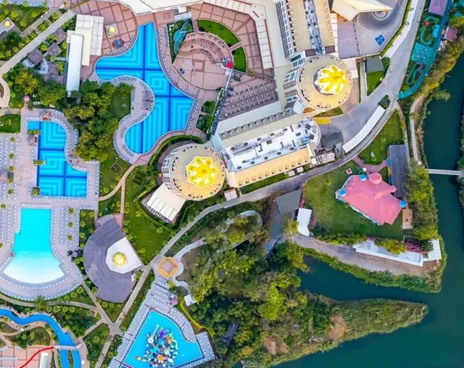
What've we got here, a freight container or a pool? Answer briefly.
pool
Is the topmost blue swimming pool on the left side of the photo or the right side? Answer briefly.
left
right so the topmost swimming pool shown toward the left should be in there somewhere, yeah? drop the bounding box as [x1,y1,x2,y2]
[95,21,195,155]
